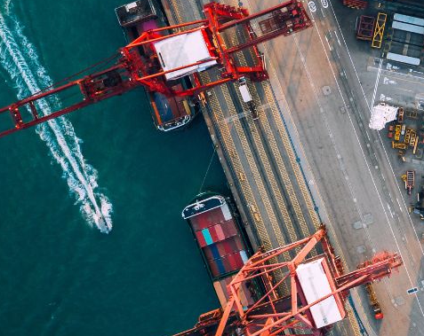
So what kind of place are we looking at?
port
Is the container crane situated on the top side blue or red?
red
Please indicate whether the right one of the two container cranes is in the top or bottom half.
bottom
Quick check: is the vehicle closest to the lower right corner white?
No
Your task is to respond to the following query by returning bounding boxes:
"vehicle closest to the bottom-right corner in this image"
[364,281,384,318]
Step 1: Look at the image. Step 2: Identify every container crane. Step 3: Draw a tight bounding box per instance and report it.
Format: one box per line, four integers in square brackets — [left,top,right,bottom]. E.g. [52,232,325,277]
[158,214,403,336]
[0,0,316,138]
